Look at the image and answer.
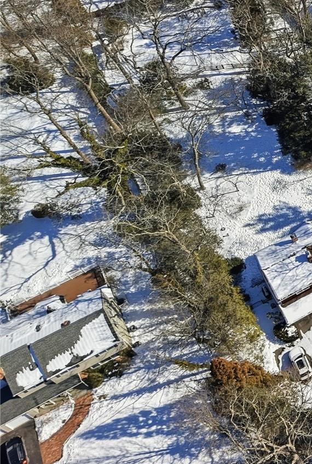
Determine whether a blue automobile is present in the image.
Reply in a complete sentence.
No, the frame has no blue automobile in it.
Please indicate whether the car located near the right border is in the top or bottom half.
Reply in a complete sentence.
The bottom half of the photo is where the car located near the right border is.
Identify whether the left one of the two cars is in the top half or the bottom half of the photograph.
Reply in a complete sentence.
Seen from above, the left one of the two cars lies in the bottom half of the view.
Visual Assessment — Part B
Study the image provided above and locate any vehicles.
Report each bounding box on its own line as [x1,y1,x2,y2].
[3,434,27,464]
[289,347,312,381]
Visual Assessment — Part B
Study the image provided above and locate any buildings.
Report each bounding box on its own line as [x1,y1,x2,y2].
[0,260,129,440]
[256,225,312,334]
